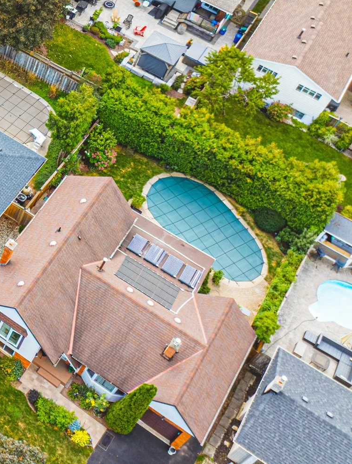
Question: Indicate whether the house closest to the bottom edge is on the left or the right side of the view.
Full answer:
It is on the right.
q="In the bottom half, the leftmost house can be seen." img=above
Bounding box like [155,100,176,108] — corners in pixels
[0,175,257,453]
